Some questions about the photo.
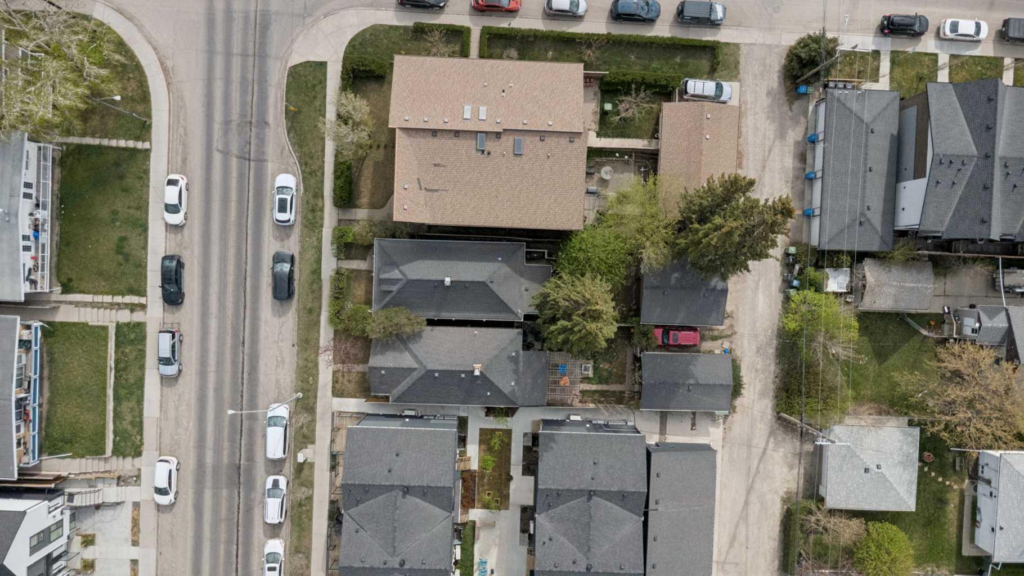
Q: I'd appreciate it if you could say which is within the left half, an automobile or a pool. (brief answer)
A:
automobile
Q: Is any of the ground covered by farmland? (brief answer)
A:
No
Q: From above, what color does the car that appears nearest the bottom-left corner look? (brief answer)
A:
white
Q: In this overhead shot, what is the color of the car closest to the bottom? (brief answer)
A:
white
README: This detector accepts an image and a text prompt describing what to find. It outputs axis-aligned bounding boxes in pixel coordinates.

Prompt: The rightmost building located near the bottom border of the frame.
[975,445,1024,562]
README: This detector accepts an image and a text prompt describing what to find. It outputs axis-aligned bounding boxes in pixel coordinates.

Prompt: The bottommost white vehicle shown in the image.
[259,538,286,576]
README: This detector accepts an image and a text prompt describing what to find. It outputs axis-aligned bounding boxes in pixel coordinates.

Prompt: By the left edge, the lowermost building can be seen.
[0,488,80,576]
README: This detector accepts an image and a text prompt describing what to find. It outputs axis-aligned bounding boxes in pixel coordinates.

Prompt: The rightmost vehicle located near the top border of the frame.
[1001,17,1024,43]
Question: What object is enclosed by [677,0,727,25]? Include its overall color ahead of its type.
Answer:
gray car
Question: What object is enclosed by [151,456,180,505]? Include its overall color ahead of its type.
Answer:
white car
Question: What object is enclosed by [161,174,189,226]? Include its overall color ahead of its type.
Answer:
white car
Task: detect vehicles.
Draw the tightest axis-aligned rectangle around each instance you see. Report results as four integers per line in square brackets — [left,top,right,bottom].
[677,0,727,25]
[154,328,183,378]
[261,475,288,525]
[939,17,989,43]
[157,255,185,305]
[268,251,296,301]
[472,0,521,12]
[151,456,180,505]
[1001,17,1024,43]
[545,0,589,17]
[611,0,661,21]
[262,404,290,460]
[161,174,189,226]
[259,538,286,576]
[653,326,701,350]
[399,0,448,11]
[682,76,732,103]
[270,174,297,226]
[880,10,930,38]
